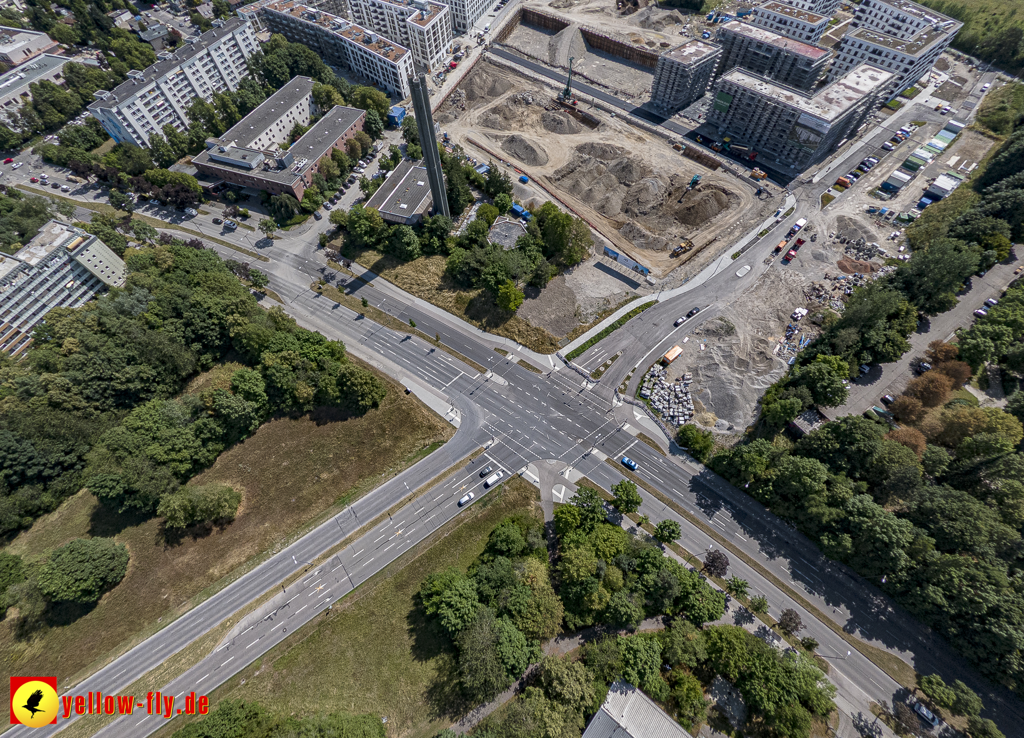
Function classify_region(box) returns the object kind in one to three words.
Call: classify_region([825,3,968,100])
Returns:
building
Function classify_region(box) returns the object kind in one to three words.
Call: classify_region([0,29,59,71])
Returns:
building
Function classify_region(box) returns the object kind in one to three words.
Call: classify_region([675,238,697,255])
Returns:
work vehicle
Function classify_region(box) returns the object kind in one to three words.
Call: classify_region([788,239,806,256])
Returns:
vehicle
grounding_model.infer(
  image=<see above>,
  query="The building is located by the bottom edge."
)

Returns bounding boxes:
[580,682,677,738]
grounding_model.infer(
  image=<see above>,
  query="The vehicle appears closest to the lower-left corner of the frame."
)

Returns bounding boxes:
[457,490,476,506]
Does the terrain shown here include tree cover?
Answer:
Yes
